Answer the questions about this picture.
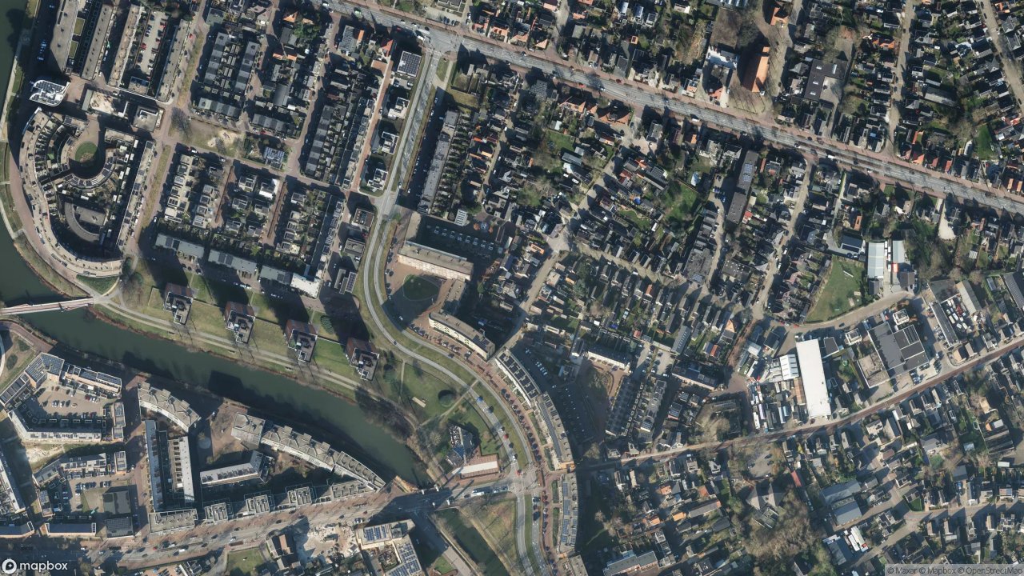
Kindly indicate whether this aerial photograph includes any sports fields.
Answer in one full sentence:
Yes, looking at the shot, I can spot a sports field.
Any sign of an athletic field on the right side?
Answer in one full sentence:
Yes, you'll find an athletic field on the right side.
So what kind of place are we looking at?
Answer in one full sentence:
The picture captures a residential area.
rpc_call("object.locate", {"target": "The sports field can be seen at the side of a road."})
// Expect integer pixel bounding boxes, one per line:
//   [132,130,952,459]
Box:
[805,254,867,321]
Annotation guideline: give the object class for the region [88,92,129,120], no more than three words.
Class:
building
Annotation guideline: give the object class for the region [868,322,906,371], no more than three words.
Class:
building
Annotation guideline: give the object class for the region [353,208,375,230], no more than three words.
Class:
house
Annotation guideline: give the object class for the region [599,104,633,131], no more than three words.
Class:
house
